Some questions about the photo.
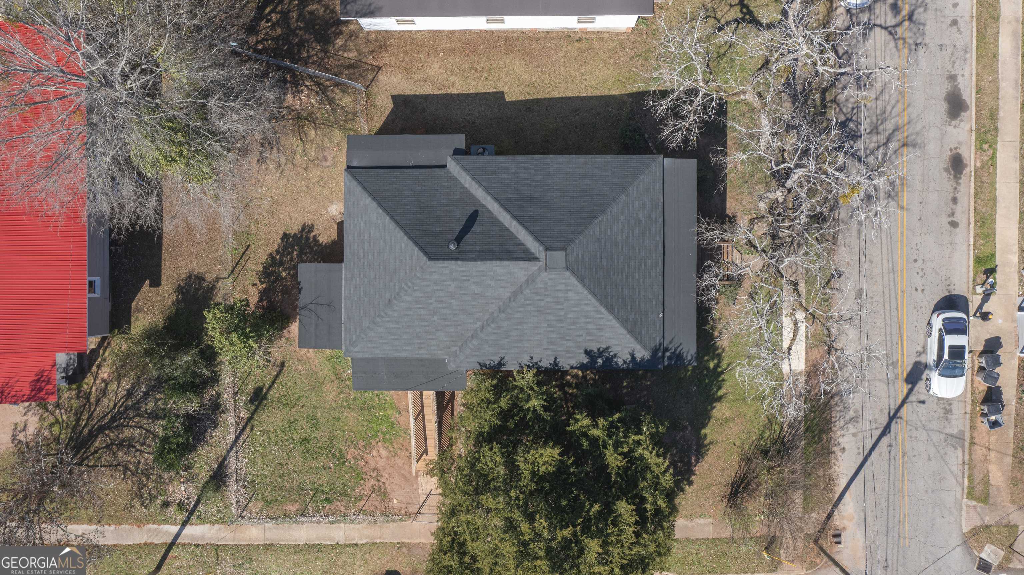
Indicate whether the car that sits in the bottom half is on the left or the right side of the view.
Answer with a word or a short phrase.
right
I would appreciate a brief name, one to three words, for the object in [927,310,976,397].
car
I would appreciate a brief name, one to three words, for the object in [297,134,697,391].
house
